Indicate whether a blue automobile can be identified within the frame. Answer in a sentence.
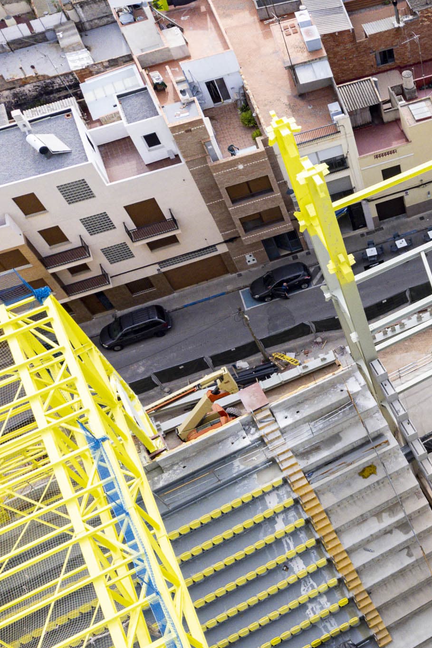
No, the scene contains no blue automobile.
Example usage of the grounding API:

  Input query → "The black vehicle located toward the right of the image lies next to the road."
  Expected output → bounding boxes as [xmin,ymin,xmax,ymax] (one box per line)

[245,258,317,304]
